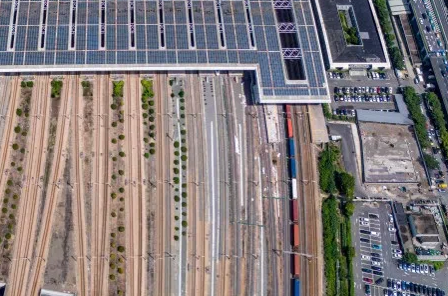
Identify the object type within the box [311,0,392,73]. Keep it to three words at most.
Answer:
building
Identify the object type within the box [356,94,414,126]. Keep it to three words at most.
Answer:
shed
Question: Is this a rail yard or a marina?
rail yard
